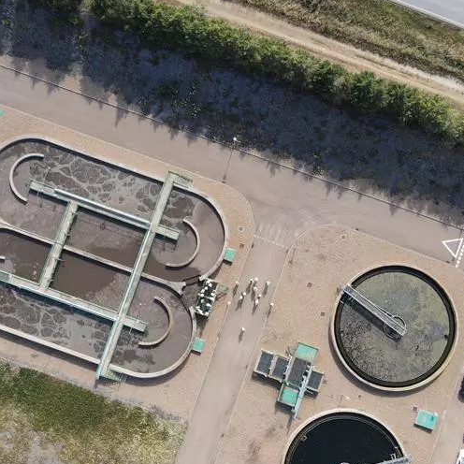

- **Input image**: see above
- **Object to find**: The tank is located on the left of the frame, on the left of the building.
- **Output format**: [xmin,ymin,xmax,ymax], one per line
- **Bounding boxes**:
[0,136,226,384]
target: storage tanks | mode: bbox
[330,264,457,389]
[280,408,414,464]
[0,136,226,384]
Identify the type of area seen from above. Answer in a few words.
industrial area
